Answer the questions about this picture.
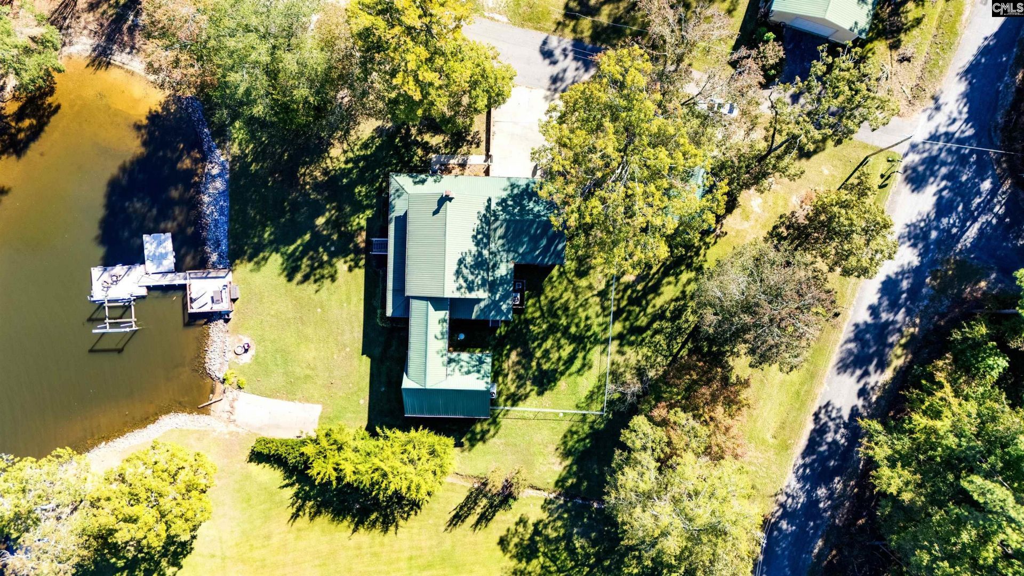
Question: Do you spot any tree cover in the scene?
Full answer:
Yes, there is tree cover in the image.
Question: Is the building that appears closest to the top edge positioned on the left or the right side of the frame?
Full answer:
The building that appears closest to the top edge sits on the right side.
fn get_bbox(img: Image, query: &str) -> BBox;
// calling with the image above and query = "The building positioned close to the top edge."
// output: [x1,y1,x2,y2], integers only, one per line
[768,0,872,46]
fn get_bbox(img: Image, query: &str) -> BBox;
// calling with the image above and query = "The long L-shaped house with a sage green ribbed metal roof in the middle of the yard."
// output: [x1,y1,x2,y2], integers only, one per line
[385,172,565,418]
